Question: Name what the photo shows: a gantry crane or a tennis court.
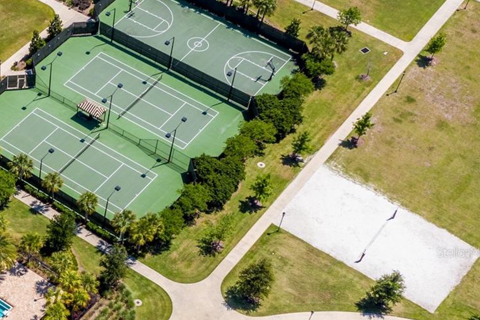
tennis court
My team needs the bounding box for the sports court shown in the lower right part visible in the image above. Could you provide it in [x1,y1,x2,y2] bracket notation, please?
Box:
[272,166,479,313]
